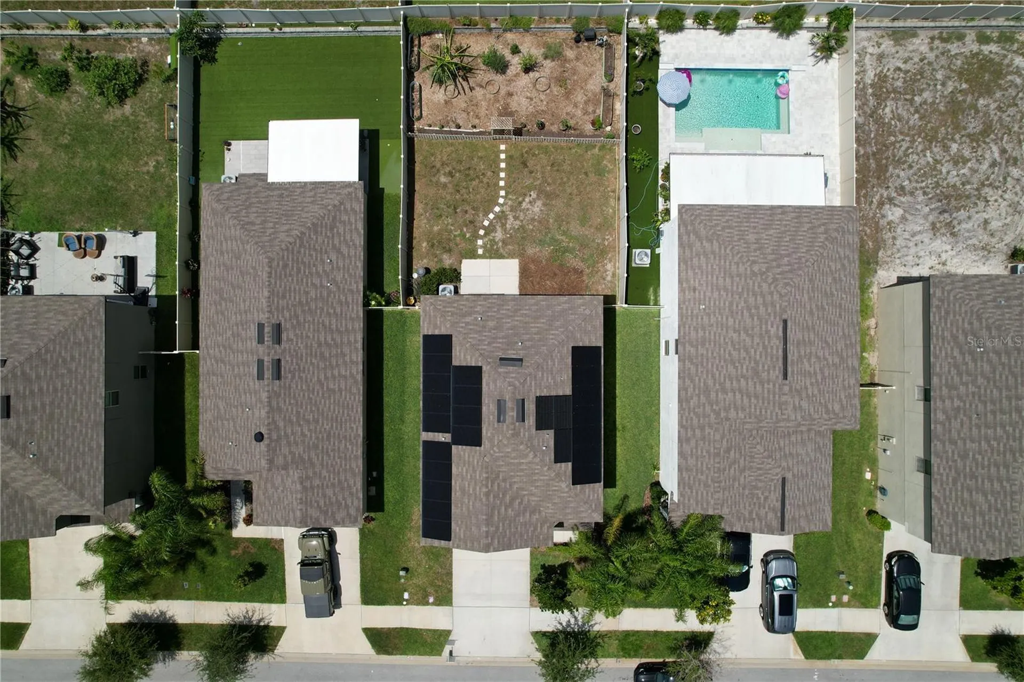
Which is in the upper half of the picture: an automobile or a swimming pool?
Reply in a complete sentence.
The one visible in the upper half of the picture is a swimming pool.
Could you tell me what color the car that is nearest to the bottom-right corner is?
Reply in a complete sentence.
The car that is nearest to the bottom-right corner looks black in the image.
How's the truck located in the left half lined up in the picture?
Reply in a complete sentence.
In this picture, the truck located in the left half lies from top to bottom.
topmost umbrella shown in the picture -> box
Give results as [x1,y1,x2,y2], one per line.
[657,72,690,105]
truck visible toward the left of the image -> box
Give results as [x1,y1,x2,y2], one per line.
[293,528,336,616]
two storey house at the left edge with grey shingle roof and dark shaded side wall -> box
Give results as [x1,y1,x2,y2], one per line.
[0,295,154,542]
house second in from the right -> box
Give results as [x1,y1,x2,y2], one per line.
[656,153,860,537]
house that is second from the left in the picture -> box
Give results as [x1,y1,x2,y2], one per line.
[199,118,367,529]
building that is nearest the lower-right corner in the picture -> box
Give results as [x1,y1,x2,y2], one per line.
[877,273,1024,561]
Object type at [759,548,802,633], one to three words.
car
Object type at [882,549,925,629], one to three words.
car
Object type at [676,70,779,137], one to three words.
swimming pool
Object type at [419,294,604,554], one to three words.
house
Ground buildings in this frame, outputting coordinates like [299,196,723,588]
[419,294,604,554]
[656,153,860,537]
[0,295,154,542]
[877,273,1024,561]
[199,118,367,529]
